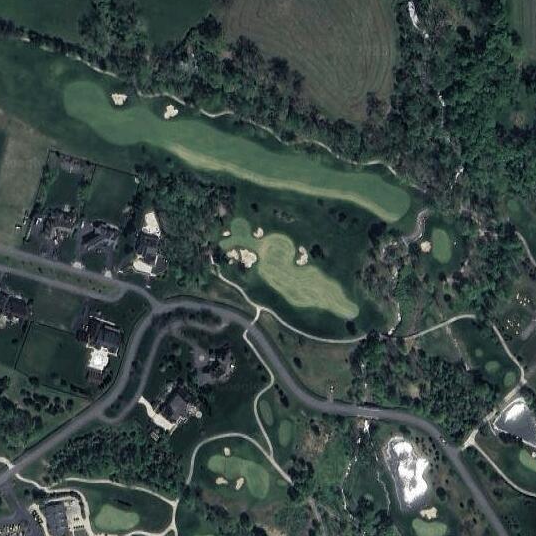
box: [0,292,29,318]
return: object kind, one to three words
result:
house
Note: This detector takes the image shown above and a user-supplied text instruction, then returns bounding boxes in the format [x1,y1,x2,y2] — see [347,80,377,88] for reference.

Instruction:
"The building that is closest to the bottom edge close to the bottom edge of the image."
[42,502,67,536]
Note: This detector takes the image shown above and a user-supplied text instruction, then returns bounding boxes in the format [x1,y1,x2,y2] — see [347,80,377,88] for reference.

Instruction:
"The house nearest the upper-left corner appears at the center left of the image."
[40,208,76,237]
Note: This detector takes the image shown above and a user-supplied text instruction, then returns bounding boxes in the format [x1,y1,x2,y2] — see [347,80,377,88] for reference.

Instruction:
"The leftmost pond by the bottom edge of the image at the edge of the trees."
[385,434,429,511]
